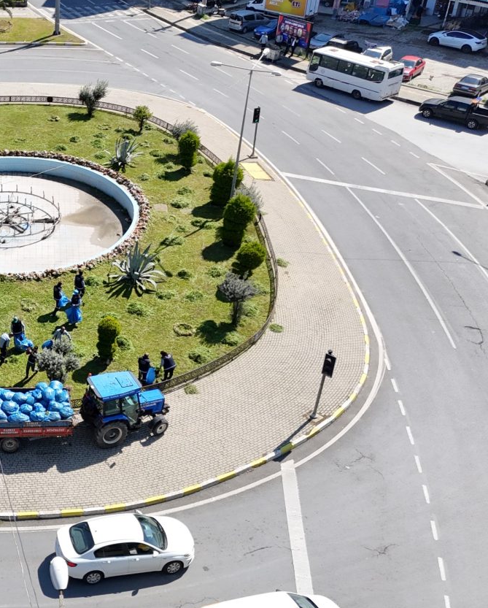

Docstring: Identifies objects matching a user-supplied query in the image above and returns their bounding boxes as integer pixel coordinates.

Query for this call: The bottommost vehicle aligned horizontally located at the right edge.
[415,92,488,129]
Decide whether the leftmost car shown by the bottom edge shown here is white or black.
white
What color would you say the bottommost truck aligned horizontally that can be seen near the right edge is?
black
